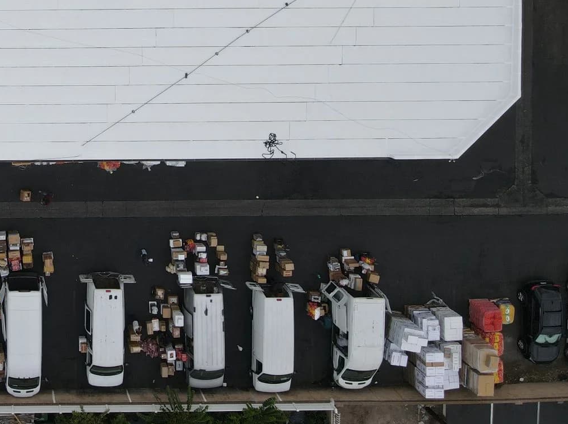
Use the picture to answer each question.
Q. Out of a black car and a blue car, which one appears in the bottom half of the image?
black car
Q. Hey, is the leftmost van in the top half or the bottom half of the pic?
bottom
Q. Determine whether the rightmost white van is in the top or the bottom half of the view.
bottom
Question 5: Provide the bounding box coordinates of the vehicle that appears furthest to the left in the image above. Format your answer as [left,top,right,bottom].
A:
[0,275,46,398]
